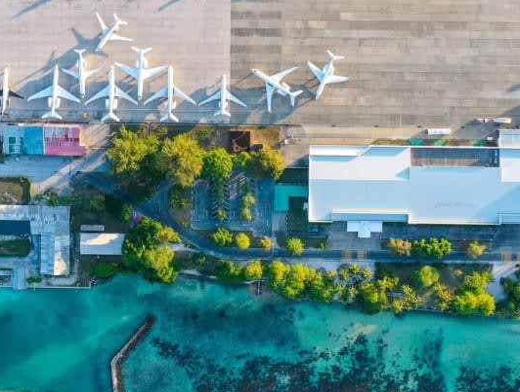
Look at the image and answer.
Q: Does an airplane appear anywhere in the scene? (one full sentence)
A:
Yes, you can see an airplane in this photo.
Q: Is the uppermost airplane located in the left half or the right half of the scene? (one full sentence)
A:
You can find the uppermost airplane on the left side of the picture.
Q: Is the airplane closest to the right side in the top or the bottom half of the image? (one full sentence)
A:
Seen from above, the airplane closest to the right side lies in the top half of the view.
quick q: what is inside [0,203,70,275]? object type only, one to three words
building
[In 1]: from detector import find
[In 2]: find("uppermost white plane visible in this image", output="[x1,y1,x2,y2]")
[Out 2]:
[96,13,132,49]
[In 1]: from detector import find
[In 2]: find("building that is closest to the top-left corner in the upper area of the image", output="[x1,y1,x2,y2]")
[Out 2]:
[2,124,86,156]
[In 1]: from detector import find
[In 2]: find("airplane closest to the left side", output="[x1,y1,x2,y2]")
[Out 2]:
[0,68,23,118]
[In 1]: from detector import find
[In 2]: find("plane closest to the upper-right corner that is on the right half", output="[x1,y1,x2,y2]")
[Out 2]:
[307,55,351,98]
